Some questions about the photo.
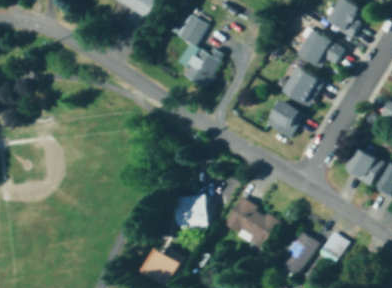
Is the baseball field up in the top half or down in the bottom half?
bottom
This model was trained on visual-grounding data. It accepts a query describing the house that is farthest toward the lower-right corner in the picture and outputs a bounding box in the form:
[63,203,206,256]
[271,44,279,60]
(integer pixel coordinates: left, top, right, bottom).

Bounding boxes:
[318,231,350,264]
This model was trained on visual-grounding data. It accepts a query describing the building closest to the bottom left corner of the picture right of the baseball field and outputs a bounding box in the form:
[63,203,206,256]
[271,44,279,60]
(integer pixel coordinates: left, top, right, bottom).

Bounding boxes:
[142,245,181,284]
